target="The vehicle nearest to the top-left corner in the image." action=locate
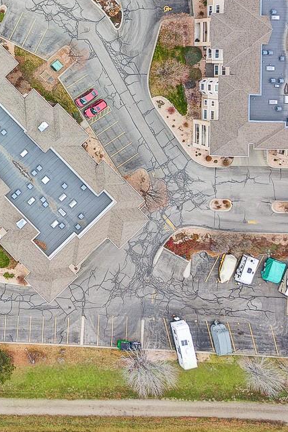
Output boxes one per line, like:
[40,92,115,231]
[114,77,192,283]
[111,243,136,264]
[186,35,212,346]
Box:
[75,89,100,107]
